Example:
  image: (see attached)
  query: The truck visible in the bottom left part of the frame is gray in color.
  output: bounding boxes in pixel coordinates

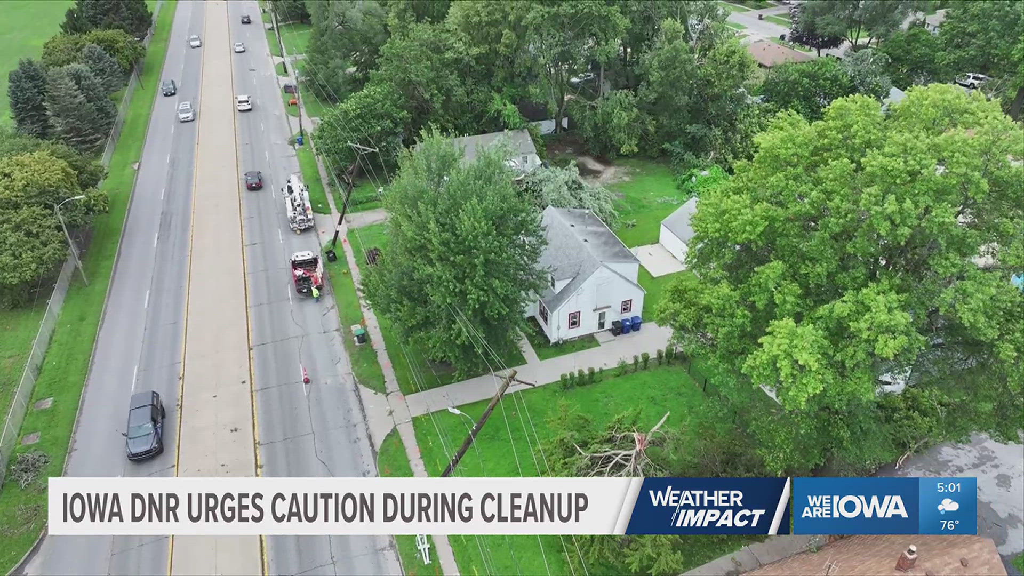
[122,386,167,459]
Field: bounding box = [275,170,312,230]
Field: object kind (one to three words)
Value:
truck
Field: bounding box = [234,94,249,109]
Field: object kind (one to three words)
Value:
car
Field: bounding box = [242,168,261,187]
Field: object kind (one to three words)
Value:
car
